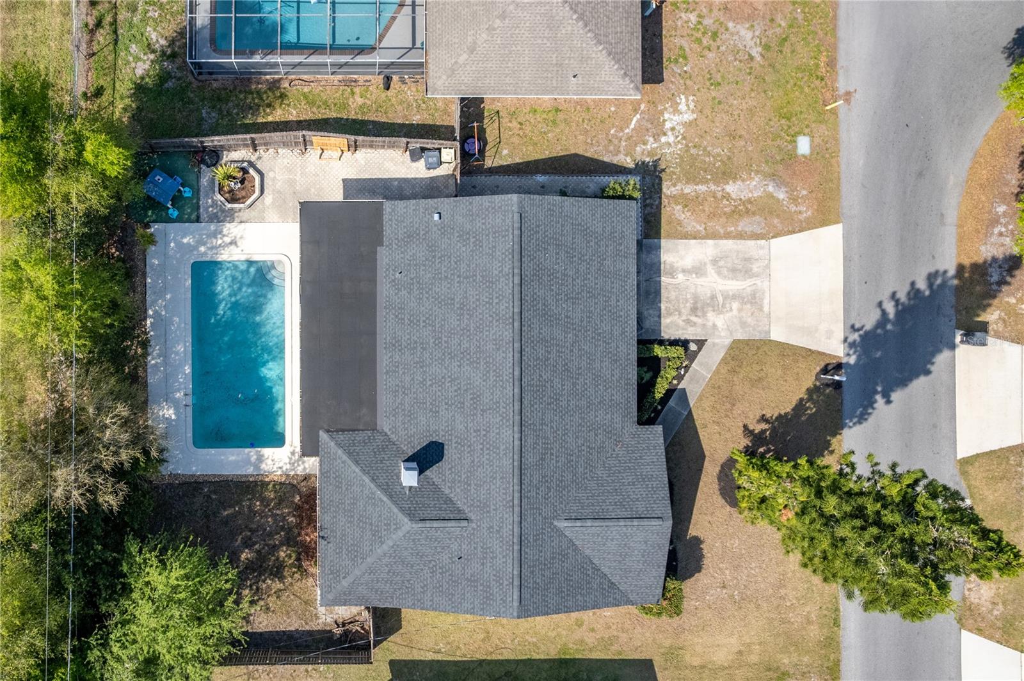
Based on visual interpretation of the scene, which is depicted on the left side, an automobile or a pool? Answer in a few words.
pool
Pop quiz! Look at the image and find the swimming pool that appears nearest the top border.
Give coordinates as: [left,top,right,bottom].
[210,0,410,56]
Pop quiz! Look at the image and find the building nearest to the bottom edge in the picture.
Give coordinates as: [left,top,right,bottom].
[298,193,673,619]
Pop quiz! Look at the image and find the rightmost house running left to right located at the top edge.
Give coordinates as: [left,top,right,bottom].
[423,0,643,99]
